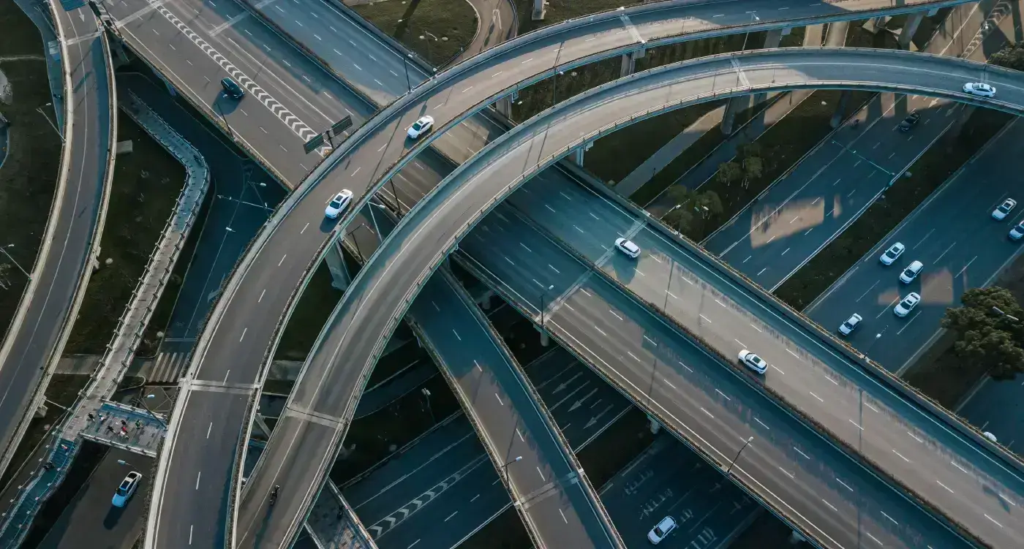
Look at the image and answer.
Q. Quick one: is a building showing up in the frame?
No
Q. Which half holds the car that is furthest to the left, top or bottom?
bottom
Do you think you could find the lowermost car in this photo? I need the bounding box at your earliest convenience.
[645,513,679,545]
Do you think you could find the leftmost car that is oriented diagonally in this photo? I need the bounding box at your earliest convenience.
[111,472,141,507]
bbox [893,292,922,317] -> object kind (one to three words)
car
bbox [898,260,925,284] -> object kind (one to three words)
car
